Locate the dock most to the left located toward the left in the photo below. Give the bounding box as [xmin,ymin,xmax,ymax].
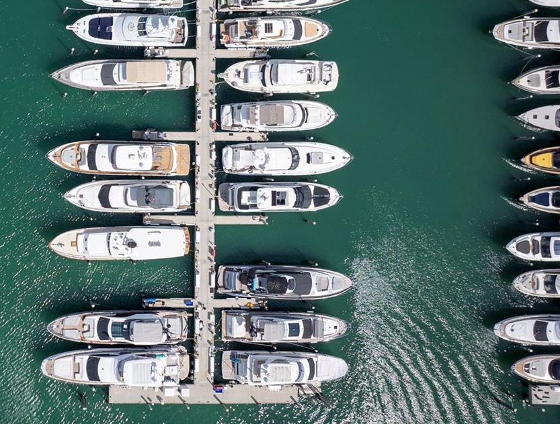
[108,0,320,404]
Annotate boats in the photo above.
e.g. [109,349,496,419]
[41,344,189,386]
[85,0,183,8]
[63,179,190,213]
[49,226,190,260]
[517,104,560,130]
[217,0,346,14]
[51,59,194,91]
[222,142,353,176]
[494,320,560,356]
[515,270,560,301]
[492,16,560,49]
[222,309,347,342]
[221,102,336,132]
[511,354,560,384]
[220,16,330,48]
[511,67,560,97]
[519,186,560,213]
[222,347,348,384]
[219,182,343,213]
[519,146,560,174]
[216,60,337,93]
[48,309,192,343]
[504,232,560,261]
[527,0,560,7]
[46,141,189,176]
[66,12,188,47]
[216,264,353,298]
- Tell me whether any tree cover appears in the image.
No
